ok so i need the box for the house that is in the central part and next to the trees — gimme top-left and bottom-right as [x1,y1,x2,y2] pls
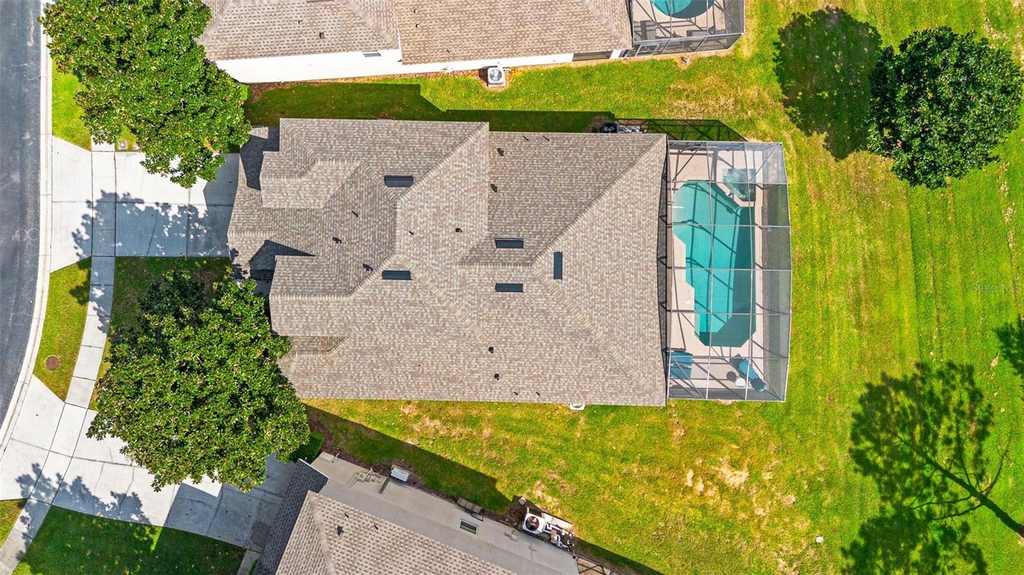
[227,118,669,406]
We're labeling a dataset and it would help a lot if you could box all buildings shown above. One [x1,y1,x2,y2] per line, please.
[227,118,669,406]
[250,452,581,575]
[176,0,632,84]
